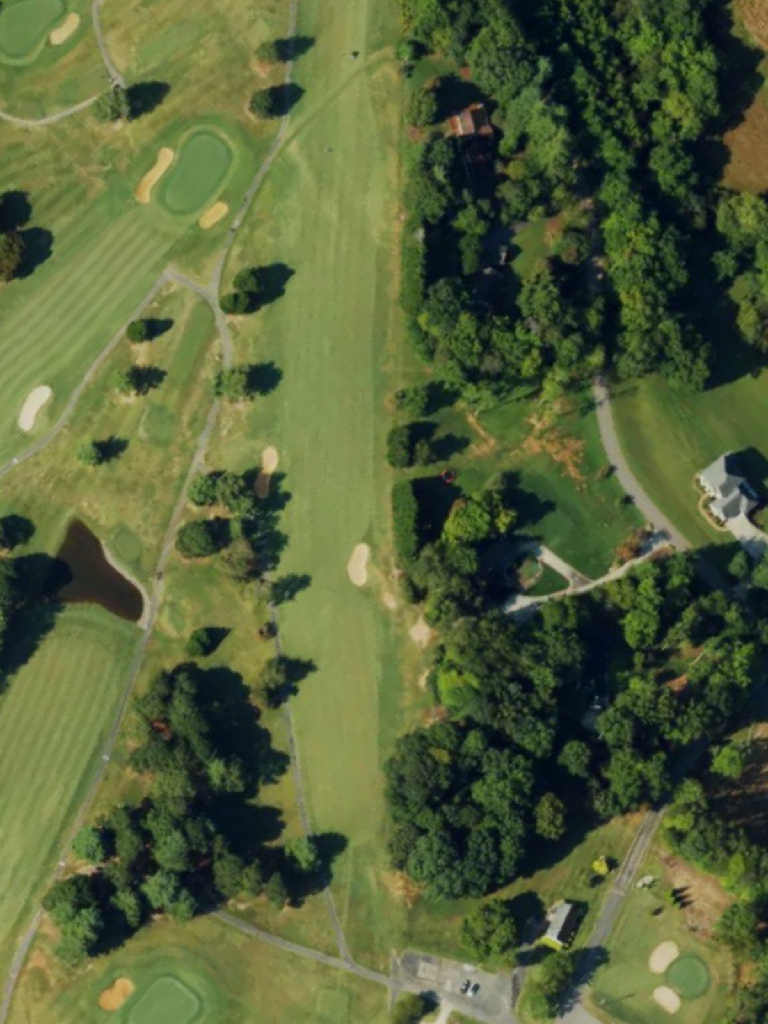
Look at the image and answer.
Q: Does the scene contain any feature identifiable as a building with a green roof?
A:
No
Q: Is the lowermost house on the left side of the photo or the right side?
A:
right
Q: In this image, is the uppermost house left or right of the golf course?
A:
right of it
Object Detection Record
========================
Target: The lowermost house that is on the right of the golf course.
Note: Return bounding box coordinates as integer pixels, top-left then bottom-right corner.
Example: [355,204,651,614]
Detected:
[544,900,580,949]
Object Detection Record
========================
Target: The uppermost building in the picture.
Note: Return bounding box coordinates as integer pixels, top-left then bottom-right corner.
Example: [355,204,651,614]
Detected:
[450,102,492,135]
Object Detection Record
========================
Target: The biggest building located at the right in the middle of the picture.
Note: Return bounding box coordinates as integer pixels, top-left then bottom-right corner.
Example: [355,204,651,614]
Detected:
[696,450,762,521]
